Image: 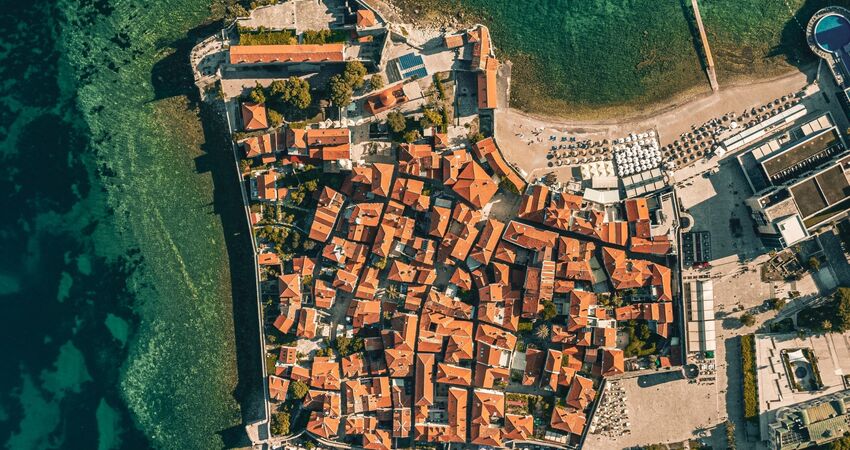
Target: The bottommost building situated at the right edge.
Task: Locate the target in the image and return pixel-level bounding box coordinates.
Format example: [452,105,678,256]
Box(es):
[761,385,850,450]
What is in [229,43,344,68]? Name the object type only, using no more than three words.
house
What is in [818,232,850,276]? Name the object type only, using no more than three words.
building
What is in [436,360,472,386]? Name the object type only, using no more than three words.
house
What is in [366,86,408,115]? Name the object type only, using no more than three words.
building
